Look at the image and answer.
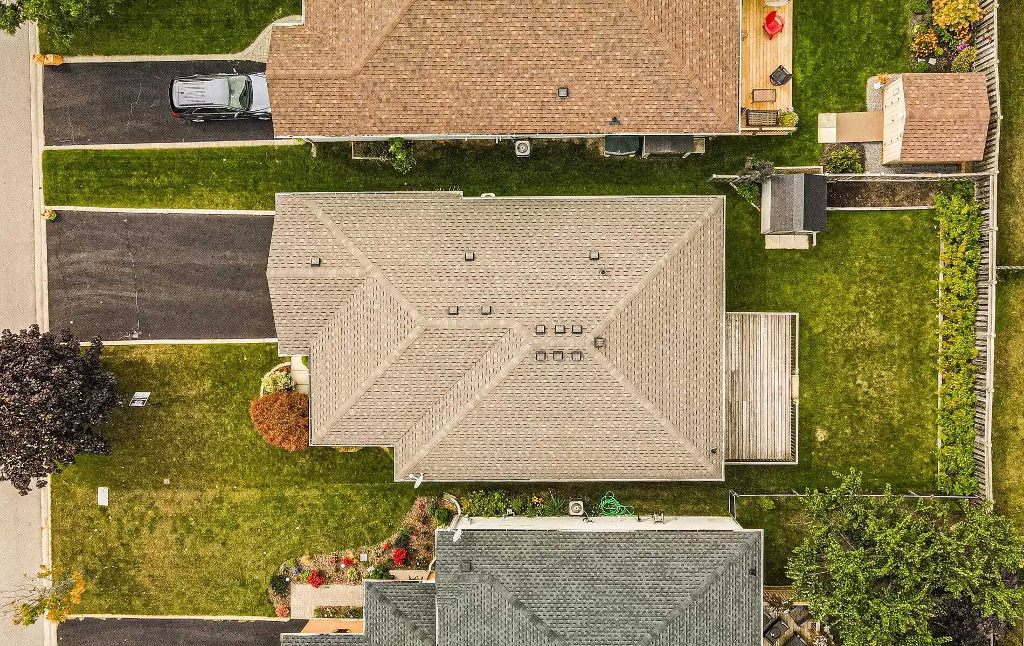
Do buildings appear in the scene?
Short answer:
Yes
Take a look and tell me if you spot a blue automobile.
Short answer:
No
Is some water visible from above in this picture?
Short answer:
No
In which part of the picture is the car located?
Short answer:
top left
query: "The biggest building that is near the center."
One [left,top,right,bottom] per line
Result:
[266,189,728,487]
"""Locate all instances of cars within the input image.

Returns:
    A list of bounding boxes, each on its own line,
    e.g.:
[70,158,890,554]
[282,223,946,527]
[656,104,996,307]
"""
[167,69,272,122]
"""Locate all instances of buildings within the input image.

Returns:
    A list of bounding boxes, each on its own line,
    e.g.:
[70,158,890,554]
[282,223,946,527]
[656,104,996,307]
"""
[266,189,728,487]
[762,173,827,246]
[267,0,743,149]
[882,73,992,166]
[278,497,766,646]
